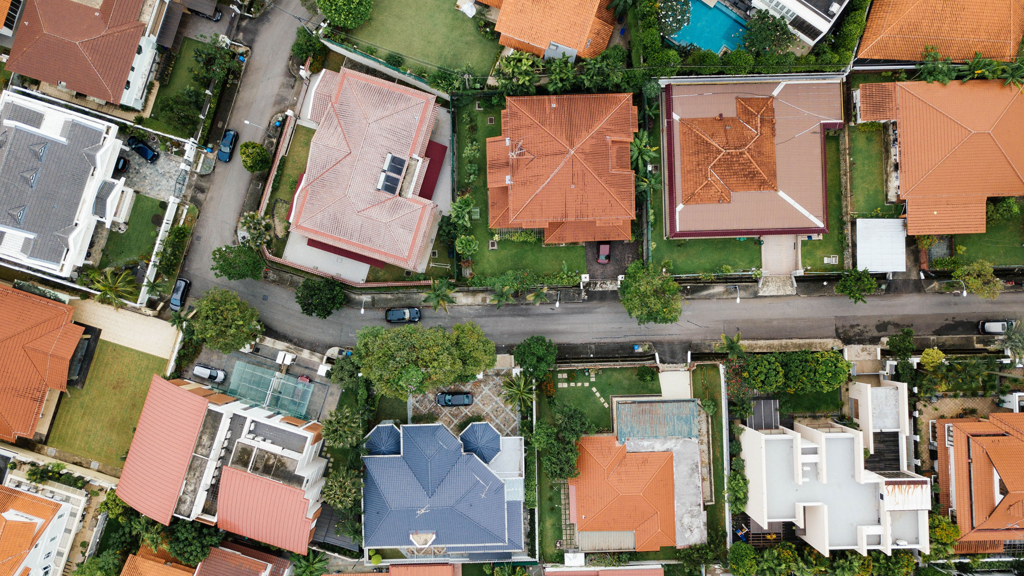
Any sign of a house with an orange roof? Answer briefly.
Yes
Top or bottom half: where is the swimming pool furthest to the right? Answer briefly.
top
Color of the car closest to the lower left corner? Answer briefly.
white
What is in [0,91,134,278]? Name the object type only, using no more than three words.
house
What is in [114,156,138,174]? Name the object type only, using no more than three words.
car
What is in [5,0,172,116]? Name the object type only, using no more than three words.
house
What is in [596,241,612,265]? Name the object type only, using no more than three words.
car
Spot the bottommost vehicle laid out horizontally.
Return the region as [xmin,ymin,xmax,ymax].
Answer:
[437,391,473,408]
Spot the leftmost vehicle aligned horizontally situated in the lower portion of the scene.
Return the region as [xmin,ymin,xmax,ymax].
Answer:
[191,363,228,383]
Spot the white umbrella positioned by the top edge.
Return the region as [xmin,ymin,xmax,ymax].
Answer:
[462,3,476,17]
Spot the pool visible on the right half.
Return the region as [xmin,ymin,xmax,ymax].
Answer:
[676,0,746,53]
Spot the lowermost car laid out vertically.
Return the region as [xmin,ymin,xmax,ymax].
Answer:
[295,366,314,399]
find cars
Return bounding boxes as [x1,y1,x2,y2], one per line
[219,129,239,163]
[295,366,314,399]
[191,363,228,383]
[977,319,1012,336]
[385,307,421,322]
[114,156,138,174]
[596,241,612,265]
[191,9,227,24]
[437,391,473,408]
[125,136,161,164]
